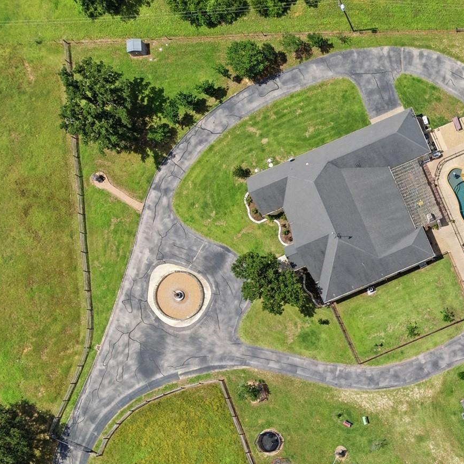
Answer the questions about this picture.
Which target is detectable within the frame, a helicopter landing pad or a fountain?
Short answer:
fountain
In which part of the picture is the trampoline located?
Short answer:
bottom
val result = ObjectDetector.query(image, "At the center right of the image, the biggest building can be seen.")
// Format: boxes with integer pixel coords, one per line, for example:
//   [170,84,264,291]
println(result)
[249,107,435,304]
